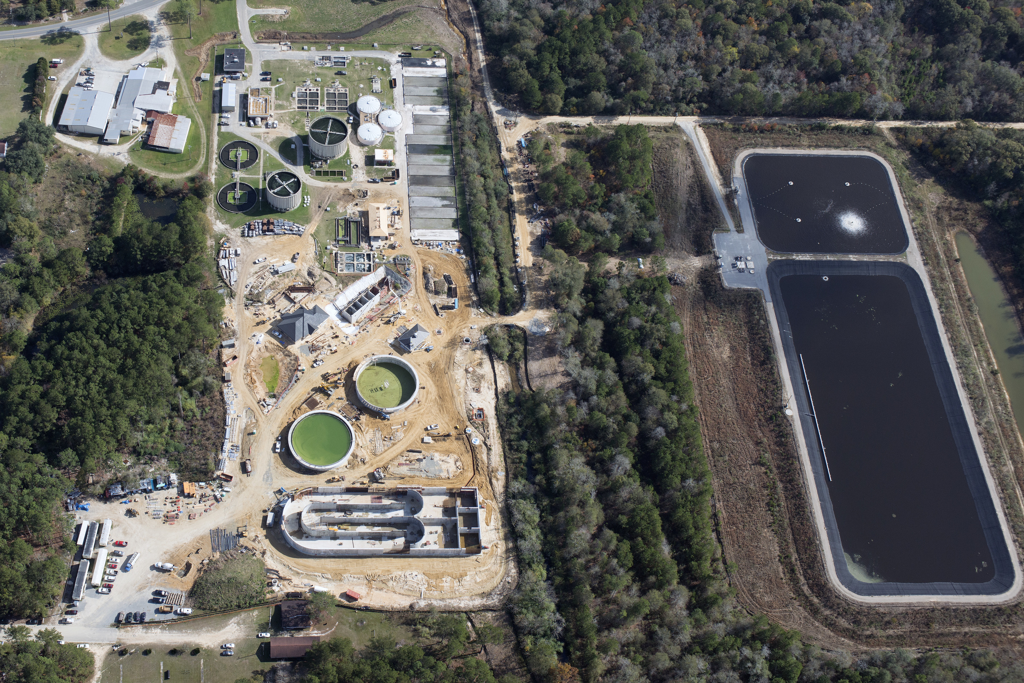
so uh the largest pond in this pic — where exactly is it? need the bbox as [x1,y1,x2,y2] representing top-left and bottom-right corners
[767,260,1015,596]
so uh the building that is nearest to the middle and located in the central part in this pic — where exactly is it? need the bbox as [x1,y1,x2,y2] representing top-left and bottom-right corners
[399,324,429,355]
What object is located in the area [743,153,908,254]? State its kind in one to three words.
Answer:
pond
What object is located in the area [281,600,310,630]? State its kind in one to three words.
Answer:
house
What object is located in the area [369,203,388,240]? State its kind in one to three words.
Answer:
building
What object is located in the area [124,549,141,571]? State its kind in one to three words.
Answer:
vehicle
